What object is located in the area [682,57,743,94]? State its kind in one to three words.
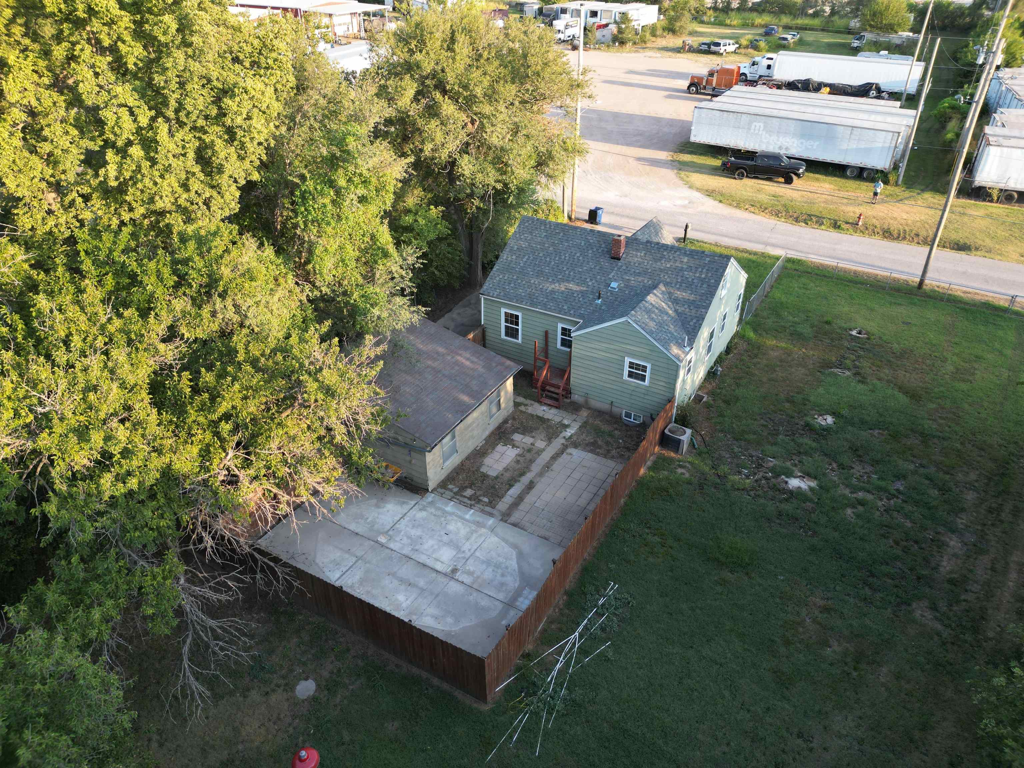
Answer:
truck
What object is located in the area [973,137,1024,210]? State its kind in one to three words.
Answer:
trailer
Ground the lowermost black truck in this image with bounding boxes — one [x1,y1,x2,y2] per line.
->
[721,150,810,185]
